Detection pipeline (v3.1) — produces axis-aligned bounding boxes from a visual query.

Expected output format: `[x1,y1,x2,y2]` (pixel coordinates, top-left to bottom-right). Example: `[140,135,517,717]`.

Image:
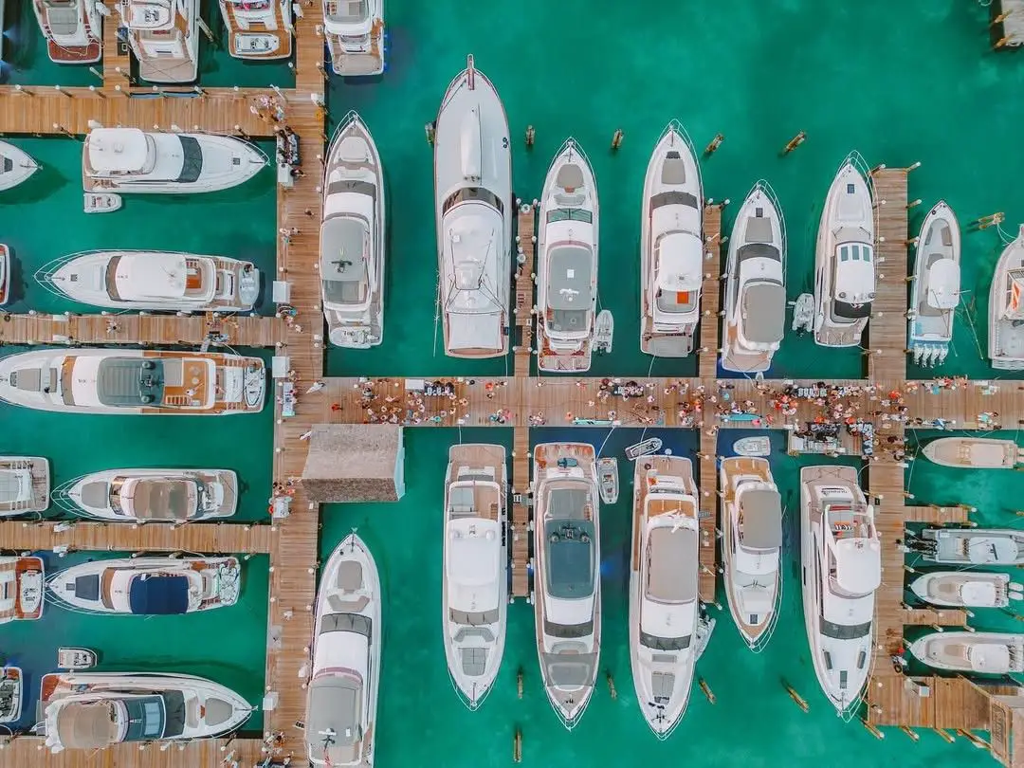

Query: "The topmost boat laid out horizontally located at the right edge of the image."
[921,438,1024,468]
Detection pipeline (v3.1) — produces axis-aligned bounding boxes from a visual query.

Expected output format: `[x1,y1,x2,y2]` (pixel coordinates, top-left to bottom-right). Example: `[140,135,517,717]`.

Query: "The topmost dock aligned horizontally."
[0,87,295,134]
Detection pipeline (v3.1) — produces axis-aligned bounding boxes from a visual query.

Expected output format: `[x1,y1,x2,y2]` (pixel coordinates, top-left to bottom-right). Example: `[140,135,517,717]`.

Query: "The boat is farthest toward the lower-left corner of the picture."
[0,665,25,721]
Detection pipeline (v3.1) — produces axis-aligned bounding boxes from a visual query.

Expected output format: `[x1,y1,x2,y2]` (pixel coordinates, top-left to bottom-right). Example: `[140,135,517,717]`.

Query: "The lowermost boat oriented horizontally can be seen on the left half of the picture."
[41,666,253,747]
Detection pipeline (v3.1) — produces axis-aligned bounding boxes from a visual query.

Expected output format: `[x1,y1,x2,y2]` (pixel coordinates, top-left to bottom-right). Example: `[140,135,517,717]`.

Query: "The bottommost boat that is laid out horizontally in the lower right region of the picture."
[910,630,1024,674]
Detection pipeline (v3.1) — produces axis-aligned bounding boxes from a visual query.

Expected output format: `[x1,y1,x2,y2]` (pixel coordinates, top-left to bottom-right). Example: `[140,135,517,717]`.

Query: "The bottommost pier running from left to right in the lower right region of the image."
[868,675,992,729]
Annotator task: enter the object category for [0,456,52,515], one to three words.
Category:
boat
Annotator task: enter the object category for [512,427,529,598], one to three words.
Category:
pier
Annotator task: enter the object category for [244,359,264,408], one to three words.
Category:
boat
